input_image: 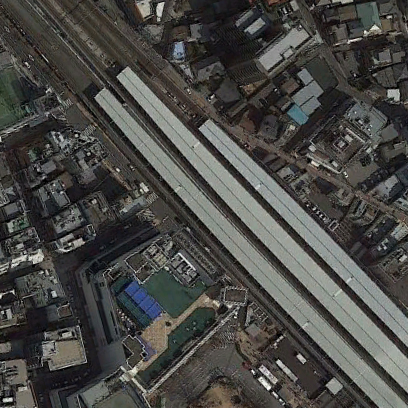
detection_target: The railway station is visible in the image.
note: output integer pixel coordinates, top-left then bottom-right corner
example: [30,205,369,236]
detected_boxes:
[91,67,408,408]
